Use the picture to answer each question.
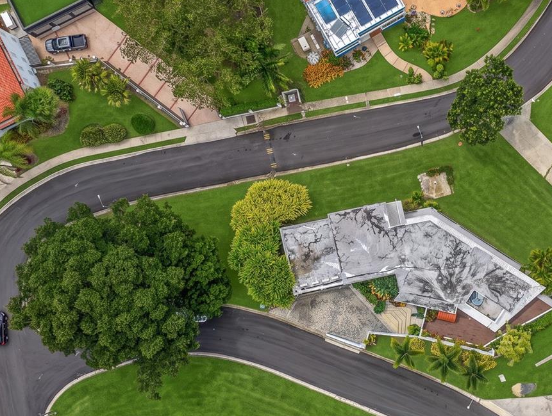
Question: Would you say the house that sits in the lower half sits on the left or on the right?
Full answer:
You can find the house that sits in the lower half on the right side of the picture.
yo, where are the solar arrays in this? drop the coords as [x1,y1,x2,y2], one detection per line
[349,0,373,26]
[382,0,398,10]
[332,0,352,16]
[331,18,349,38]
[366,0,386,18]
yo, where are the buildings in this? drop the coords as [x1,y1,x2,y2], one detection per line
[0,18,50,143]
[305,0,406,57]
[281,200,547,334]
[9,0,97,36]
